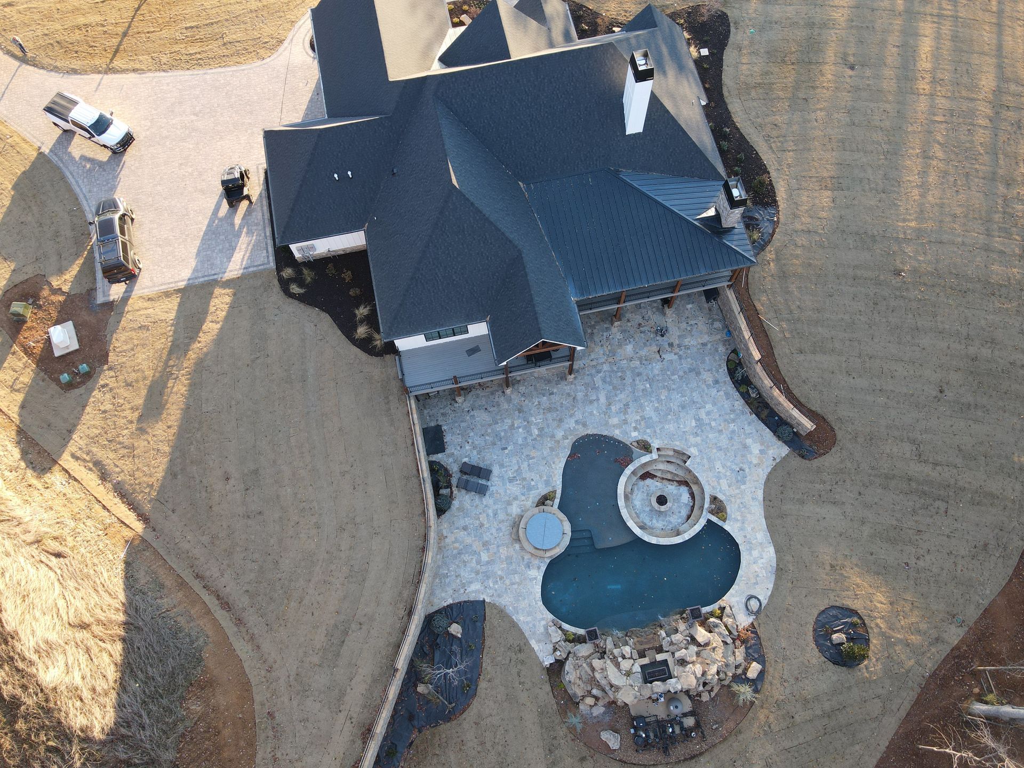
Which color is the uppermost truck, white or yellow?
white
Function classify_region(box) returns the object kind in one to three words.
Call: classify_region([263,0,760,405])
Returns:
house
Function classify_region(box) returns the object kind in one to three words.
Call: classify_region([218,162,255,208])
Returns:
vehicle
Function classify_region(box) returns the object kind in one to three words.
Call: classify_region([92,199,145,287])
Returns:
car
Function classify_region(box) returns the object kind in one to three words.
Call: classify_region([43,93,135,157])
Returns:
truck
